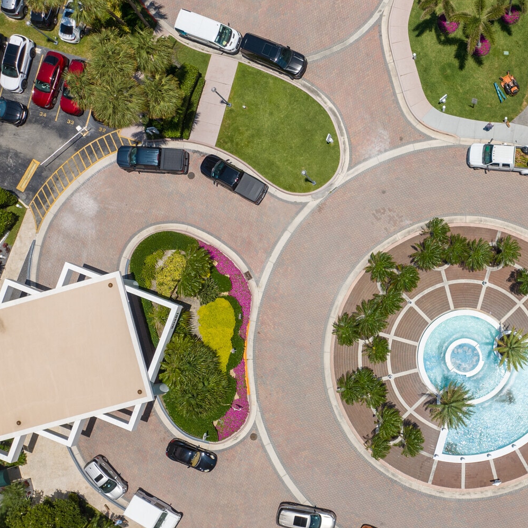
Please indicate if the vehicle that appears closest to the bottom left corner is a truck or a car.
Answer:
car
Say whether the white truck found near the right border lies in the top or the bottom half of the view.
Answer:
top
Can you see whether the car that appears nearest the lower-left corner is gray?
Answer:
Yes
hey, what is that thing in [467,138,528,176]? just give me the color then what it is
white truck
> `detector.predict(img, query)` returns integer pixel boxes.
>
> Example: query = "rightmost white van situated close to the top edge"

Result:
[179,11,244,54]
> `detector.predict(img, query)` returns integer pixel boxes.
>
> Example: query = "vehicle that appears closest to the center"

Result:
[198,154,272,208]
